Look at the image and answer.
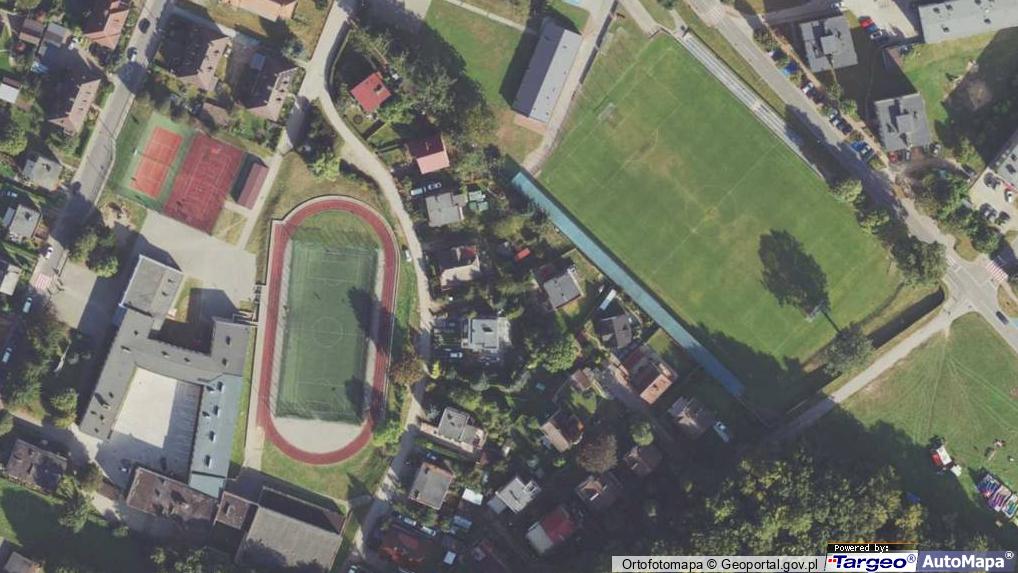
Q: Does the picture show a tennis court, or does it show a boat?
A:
tennis court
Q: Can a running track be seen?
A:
Yes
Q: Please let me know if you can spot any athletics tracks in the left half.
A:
Yes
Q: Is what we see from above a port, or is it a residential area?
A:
residential area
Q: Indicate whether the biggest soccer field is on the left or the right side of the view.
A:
right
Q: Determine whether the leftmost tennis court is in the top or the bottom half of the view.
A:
top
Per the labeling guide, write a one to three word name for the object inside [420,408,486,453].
house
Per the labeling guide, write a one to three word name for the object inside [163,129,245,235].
sports court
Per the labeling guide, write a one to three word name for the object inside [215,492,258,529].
building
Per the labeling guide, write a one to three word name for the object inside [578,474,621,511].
house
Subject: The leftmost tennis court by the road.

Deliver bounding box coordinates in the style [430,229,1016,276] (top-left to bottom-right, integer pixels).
[112,110,196,211]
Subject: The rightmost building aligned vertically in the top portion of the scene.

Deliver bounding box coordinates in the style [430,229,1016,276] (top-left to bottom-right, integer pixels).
[987,124,1018,191]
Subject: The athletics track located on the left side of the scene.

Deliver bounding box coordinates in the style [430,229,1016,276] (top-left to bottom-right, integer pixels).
[254,196,400,466]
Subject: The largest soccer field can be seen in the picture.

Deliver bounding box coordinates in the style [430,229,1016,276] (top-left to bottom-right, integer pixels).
[531,40,902,390]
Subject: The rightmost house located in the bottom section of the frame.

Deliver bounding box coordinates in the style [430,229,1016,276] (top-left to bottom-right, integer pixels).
[672,397,715,437]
